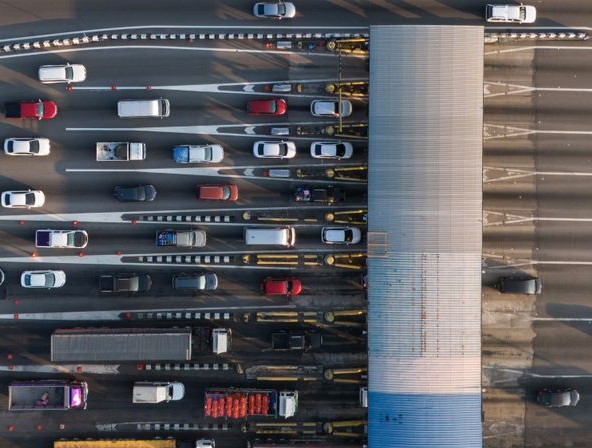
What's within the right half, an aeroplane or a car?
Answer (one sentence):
Visible within the right half is a car.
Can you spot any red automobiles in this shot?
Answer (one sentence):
Yes, a red automobile can be made out from above.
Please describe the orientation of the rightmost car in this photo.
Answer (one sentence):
The rightmost car runs from left to right in the image.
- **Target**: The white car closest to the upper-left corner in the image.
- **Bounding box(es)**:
[38,62,88,85]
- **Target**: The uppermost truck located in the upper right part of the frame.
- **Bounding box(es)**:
[486,1,535,25]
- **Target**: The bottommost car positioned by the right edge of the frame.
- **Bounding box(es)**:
[537,388,579,408]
